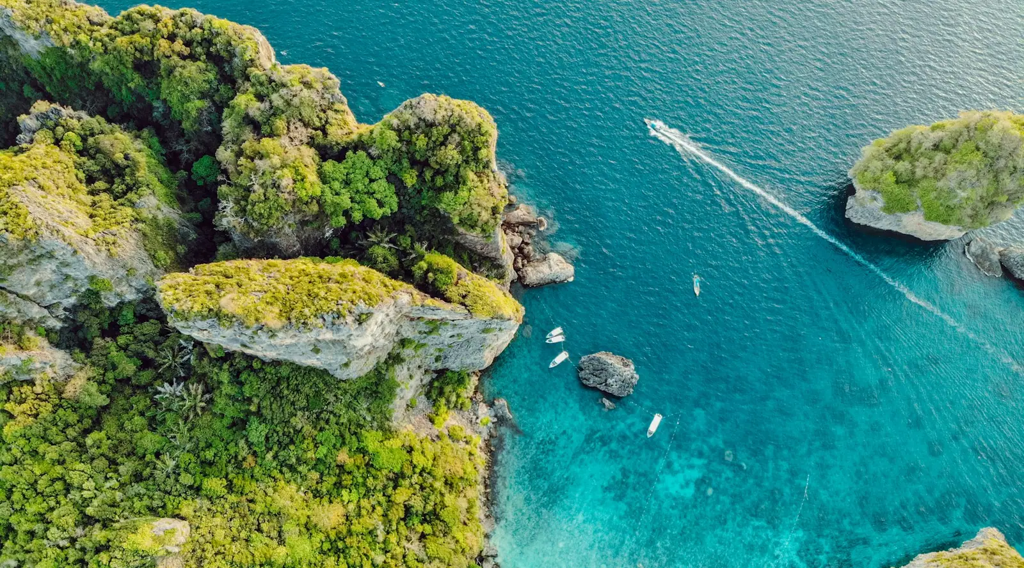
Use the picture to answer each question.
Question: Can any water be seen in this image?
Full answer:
Yes, there's water in this view.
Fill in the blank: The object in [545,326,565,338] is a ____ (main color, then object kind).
white boat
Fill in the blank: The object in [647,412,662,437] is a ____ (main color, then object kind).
white boat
